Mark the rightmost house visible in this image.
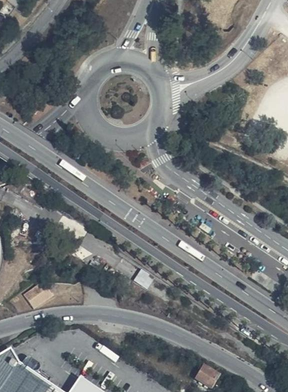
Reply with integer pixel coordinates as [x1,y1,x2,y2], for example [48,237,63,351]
[194,363,220,387]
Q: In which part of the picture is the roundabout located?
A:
top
